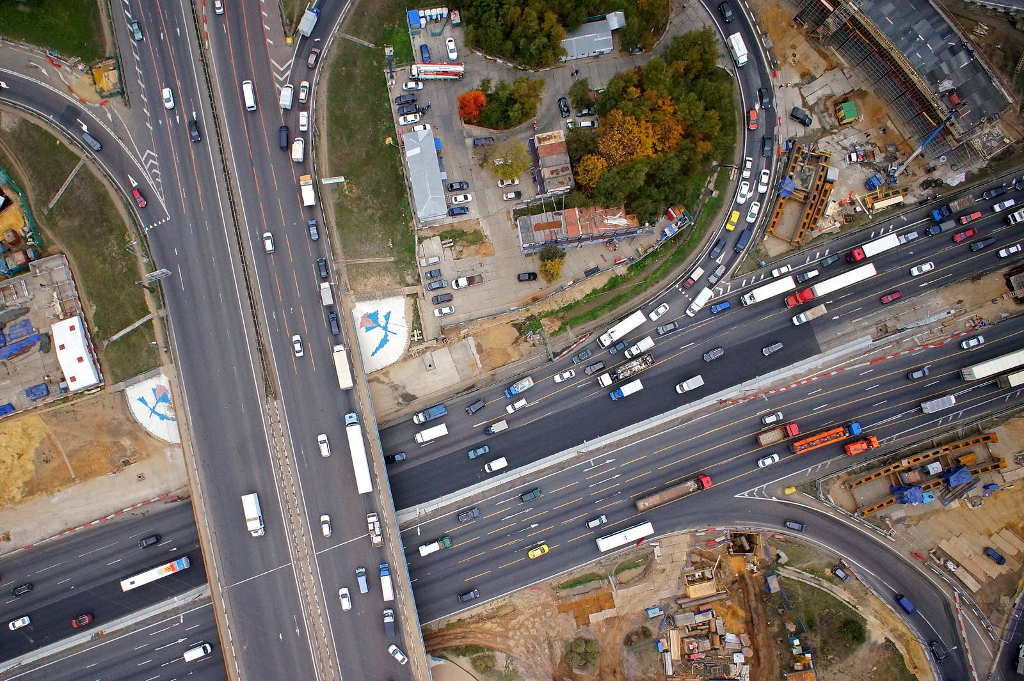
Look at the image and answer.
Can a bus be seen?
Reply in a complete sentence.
Yes, the frame does contain a bus.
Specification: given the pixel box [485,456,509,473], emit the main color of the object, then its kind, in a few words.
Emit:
white vehicle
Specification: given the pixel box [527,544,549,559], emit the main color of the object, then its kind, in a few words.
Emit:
yellow car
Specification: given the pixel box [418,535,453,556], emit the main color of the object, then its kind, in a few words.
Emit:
white truck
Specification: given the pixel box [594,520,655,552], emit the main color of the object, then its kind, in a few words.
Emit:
white bus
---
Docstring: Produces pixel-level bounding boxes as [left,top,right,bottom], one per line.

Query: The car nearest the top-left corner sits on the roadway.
[131,19,143,42]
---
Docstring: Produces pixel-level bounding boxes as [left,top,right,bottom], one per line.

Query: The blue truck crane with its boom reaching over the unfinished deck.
[860,103,969,192]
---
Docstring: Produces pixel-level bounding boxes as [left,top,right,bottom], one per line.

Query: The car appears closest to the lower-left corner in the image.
[8,615,33,631]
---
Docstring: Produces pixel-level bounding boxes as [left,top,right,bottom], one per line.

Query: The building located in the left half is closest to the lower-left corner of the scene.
[53,316,112,392]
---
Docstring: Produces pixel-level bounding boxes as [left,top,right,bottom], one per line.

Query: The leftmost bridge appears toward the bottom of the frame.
[162,333,433,681]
